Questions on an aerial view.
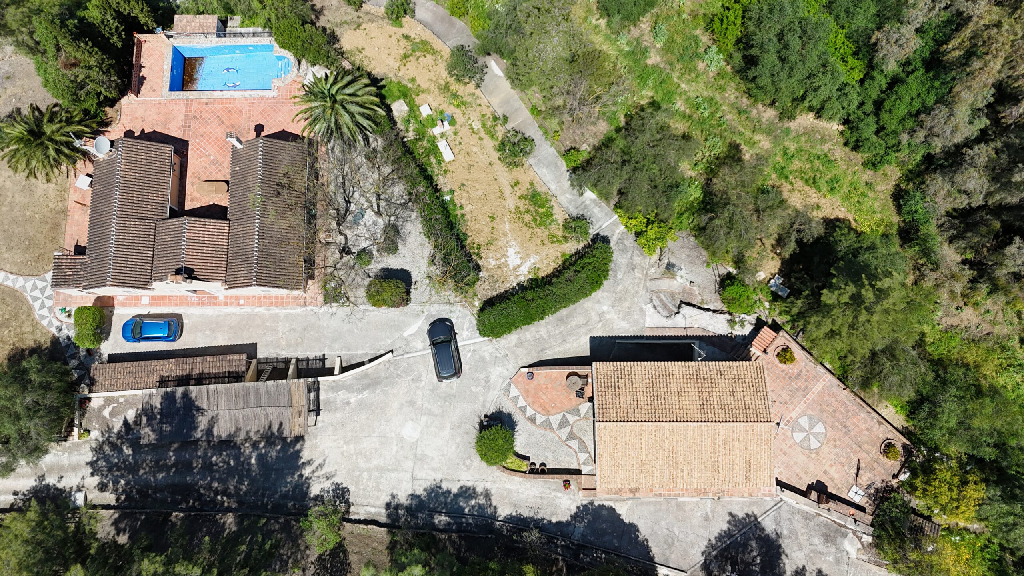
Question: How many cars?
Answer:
2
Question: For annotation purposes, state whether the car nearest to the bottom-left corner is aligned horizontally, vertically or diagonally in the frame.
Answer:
horizontally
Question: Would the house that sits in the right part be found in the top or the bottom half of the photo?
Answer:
bottom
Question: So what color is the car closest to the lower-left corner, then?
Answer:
blue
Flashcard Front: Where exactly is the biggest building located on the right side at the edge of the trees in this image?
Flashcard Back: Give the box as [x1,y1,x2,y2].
[582,361,779,501]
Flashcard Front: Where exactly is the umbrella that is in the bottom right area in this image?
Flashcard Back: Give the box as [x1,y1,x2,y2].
[844,480,876,506]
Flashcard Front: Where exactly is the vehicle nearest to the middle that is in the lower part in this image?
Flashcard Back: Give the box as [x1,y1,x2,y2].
[427,320,461,384]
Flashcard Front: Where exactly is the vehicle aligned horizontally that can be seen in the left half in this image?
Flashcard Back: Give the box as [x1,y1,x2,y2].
[120,316,183,346]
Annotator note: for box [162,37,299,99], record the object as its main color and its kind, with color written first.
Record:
blue swimming pool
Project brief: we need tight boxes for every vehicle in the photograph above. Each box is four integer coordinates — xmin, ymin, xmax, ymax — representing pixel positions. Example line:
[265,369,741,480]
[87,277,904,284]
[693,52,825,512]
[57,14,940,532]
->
[427,320,461,384]
[120,316,183,346]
